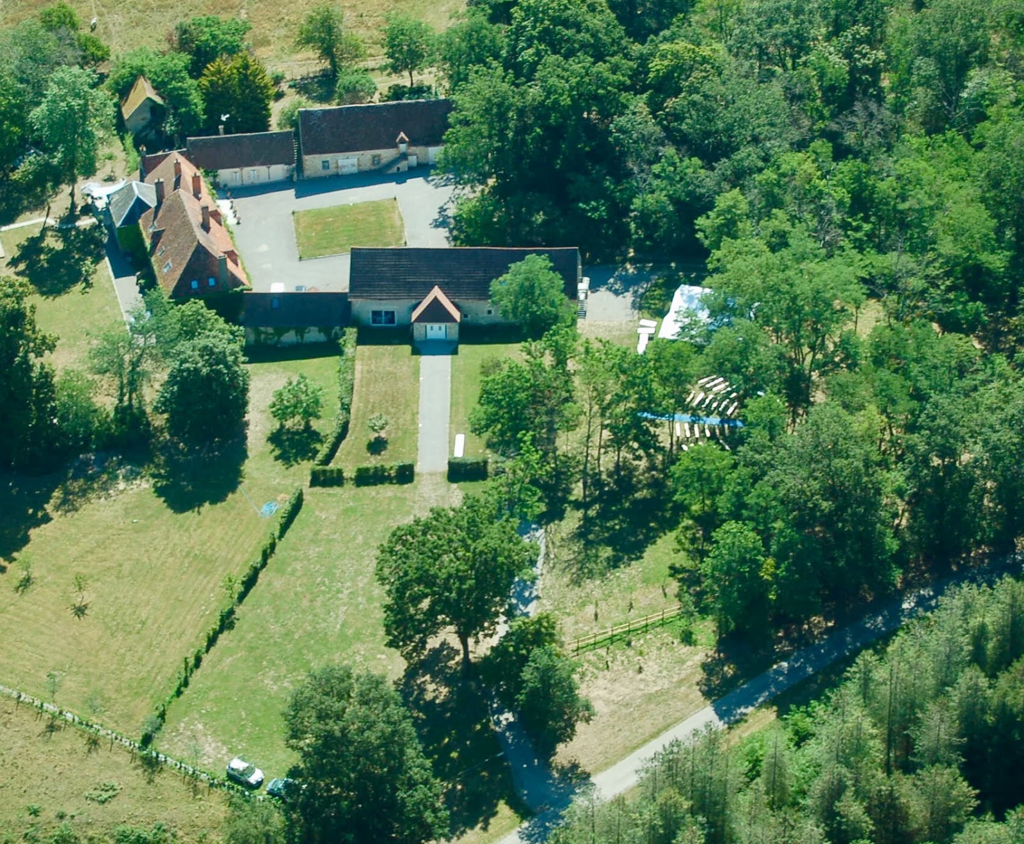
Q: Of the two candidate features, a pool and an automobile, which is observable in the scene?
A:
automobile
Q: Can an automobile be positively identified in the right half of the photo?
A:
No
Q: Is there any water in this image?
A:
No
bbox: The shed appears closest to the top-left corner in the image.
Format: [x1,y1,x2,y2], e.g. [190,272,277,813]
[111,80,164,135]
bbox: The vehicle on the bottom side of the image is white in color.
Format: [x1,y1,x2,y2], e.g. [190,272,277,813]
[228,759,262,786]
